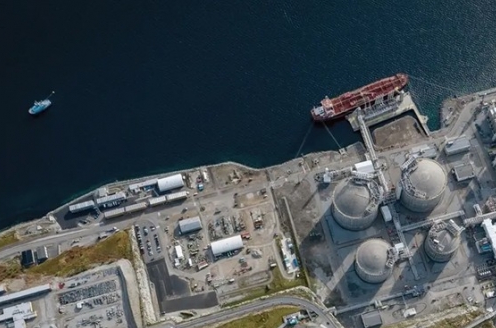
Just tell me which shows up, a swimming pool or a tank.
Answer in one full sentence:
It is a tank that can be seen here.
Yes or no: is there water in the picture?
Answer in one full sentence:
Yes, water can be seen from above here.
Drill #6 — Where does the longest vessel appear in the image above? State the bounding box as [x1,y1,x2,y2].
[309,76,409,123]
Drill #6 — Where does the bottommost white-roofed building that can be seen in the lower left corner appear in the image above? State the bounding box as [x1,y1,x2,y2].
[0,301,38,328]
